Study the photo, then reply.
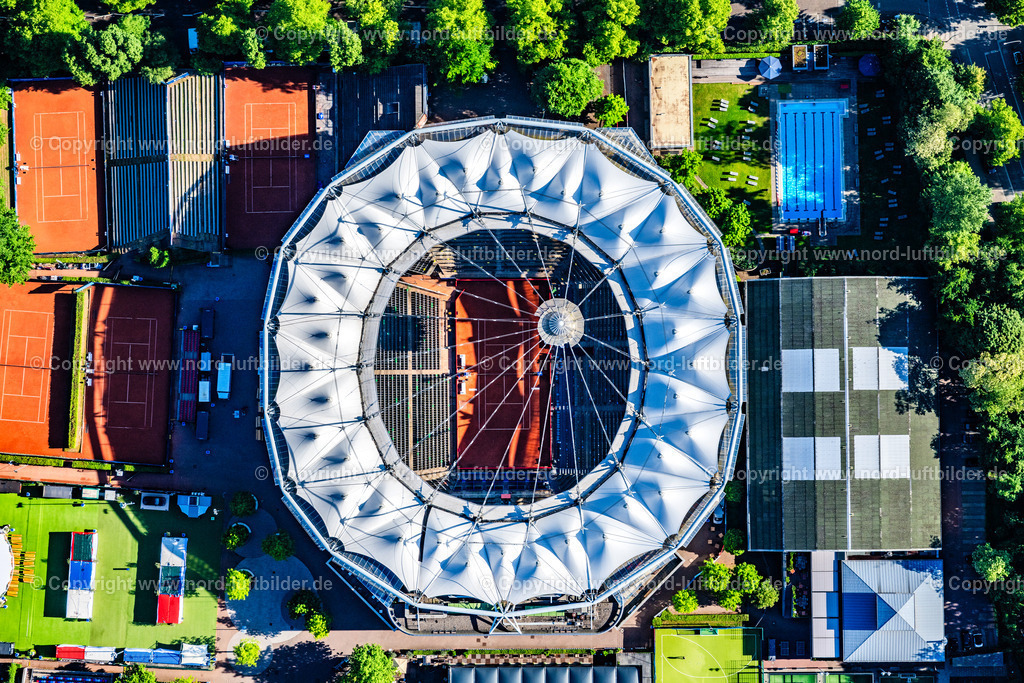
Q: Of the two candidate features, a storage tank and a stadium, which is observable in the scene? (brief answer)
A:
stadium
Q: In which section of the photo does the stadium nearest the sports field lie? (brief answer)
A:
center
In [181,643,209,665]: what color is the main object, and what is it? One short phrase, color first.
white tent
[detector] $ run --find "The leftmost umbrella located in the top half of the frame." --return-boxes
[758,56,781,79]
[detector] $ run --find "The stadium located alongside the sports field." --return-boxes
[257,111,747,635]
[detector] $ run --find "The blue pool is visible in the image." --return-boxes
[778,99,849,235]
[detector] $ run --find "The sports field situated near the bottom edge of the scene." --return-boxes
[654,628,762,683]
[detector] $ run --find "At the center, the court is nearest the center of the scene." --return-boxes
[447,277,556,472]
